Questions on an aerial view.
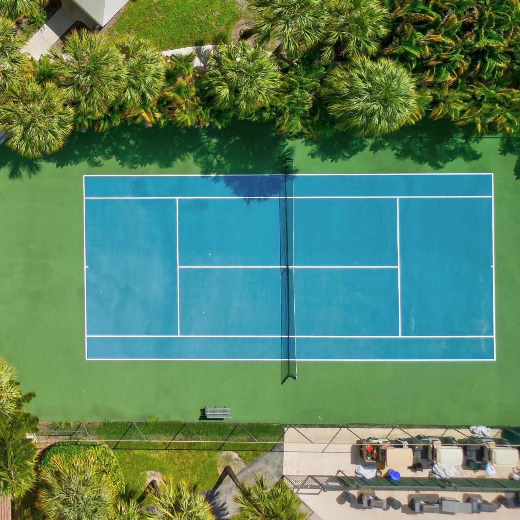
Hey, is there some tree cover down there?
Yes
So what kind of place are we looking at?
sports ground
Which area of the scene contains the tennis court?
center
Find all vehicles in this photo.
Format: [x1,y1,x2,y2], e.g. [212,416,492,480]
[414,438,470,470]
[468,440,520,471]
[366,438,420,470]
